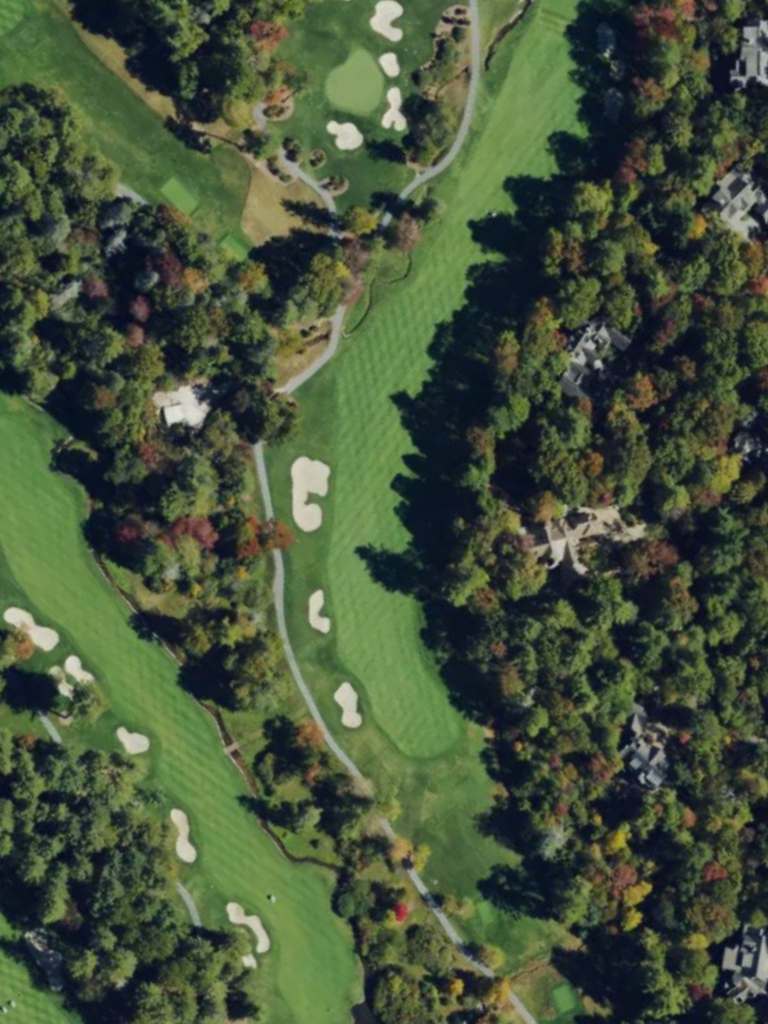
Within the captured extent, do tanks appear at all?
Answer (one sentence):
No, no tank is visible in the scene.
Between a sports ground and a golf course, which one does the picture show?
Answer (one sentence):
The area seen from above is a golf course.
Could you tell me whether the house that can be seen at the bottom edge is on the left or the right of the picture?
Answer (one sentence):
The house that can be seen at the bottom edge sits on the right side.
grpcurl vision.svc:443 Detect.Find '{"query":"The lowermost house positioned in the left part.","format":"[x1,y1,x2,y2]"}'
[155,383,209,429]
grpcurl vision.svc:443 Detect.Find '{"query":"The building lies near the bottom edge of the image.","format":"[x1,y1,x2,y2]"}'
[720,930,768,1006]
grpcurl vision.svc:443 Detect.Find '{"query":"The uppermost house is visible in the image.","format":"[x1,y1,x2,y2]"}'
[736,17,768,85]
